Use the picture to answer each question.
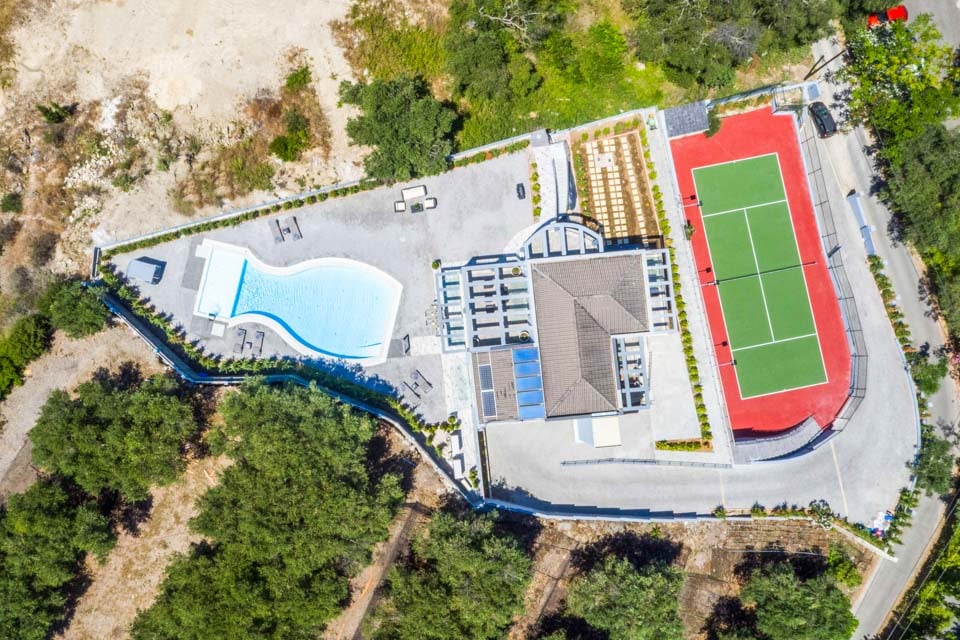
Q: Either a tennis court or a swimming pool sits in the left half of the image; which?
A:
swimming pool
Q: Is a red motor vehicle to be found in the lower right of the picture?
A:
No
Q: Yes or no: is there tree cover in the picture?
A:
Yes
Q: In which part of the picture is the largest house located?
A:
center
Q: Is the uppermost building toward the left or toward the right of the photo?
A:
right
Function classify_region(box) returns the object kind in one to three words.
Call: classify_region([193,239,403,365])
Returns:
swimming pool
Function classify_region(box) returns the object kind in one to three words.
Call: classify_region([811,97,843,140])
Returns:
car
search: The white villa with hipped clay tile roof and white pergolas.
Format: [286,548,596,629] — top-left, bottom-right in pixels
[436,220,680,426]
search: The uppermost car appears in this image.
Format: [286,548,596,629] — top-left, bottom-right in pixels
[868,0,915,28]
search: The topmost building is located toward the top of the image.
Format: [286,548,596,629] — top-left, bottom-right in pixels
[664,99,709,140]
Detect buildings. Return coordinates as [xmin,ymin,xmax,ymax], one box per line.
[664,99,709,140]
[436,220,680,426]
